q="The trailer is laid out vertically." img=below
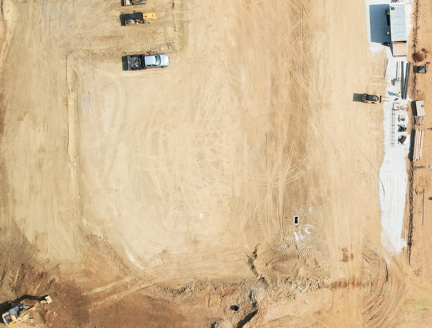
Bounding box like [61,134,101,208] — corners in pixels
[388,1,406,61]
